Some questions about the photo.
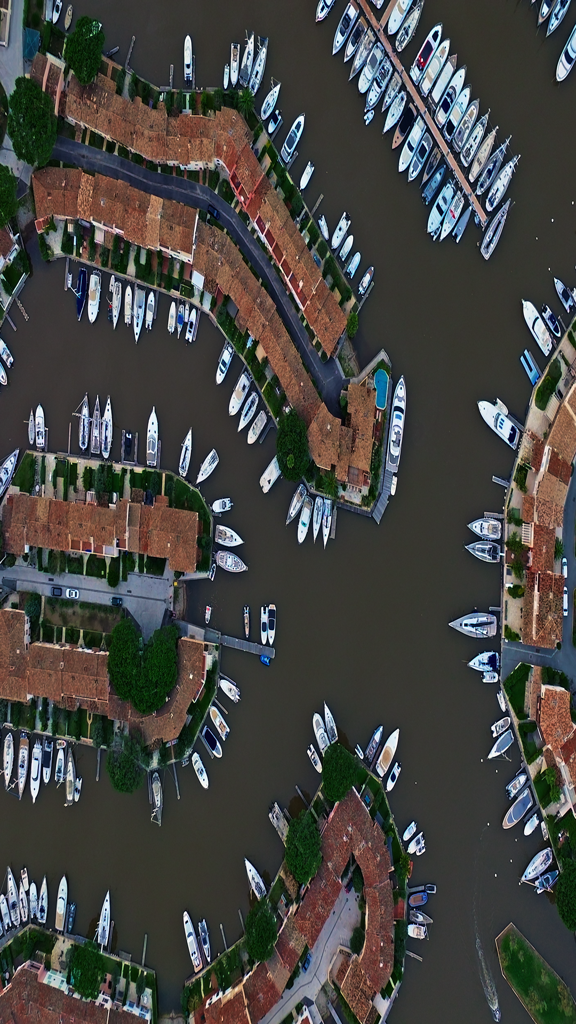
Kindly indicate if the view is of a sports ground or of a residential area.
residential area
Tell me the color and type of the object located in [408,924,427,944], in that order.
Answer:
white boat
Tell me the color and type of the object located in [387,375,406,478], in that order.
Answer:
white boat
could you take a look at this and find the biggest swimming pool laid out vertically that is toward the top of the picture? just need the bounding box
[373,368,389,410]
